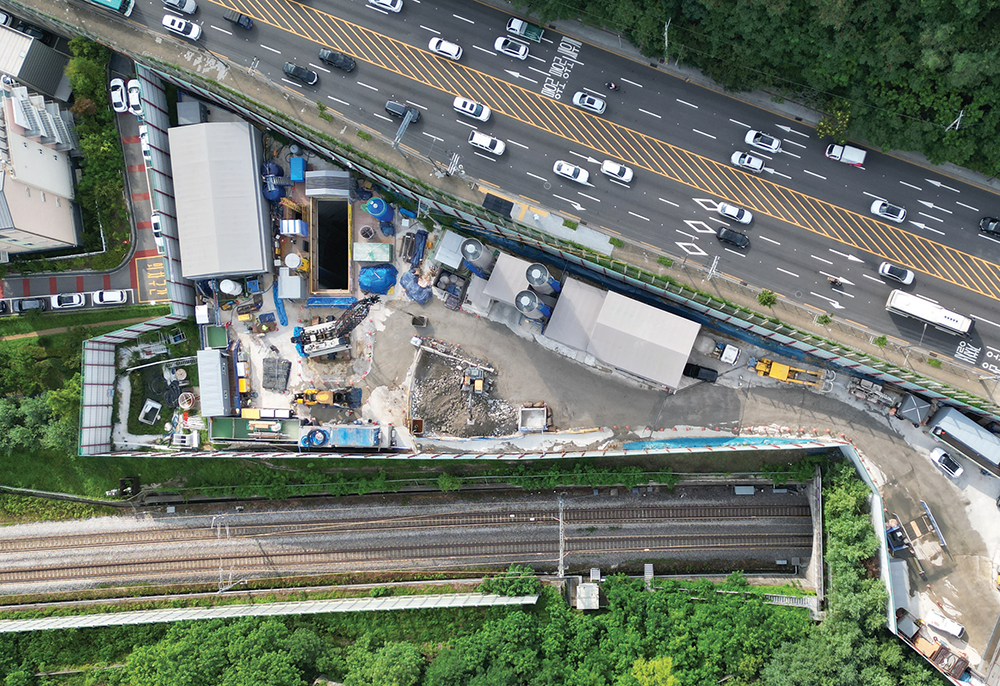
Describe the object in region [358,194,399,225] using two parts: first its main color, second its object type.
blue storage tank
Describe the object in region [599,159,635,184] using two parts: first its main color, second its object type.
white car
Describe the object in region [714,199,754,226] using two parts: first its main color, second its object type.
white car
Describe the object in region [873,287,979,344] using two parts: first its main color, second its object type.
white bus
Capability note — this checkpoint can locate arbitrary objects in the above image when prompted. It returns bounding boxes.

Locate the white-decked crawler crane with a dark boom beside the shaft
[286,287,389,368]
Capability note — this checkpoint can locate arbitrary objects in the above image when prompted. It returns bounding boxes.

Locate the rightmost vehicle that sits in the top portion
[971,213,1000,238]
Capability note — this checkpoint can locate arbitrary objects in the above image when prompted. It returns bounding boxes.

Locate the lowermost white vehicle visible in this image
[917,607,960,638]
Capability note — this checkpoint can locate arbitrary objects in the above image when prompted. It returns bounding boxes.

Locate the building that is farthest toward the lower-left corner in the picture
[197,350,236,416]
